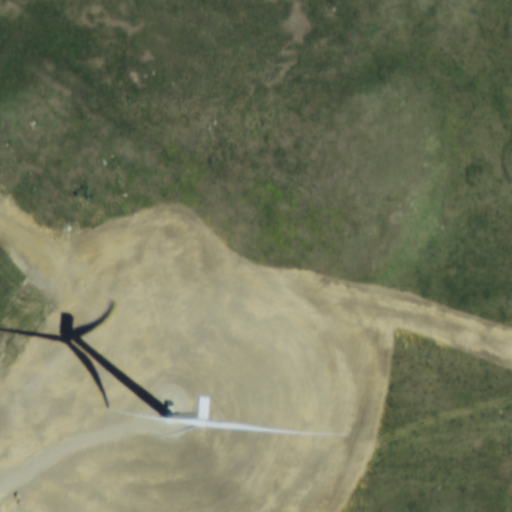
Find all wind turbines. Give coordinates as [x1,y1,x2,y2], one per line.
[104,396,341,438]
